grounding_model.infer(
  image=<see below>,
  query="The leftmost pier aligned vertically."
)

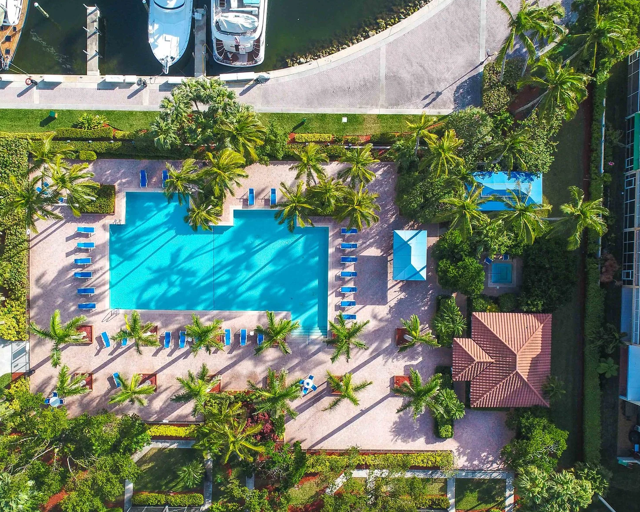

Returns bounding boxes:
[87,6,102,75]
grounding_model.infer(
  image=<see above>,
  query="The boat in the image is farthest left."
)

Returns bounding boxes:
[0,0,31,71]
